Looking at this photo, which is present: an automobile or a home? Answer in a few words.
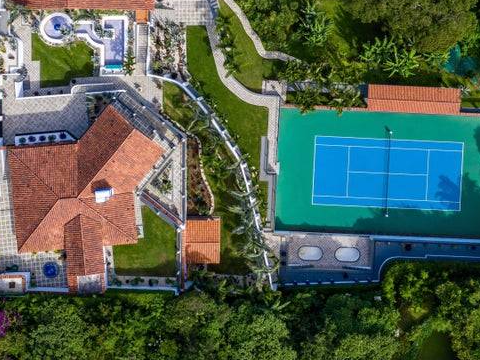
home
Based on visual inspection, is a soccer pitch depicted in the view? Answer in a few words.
No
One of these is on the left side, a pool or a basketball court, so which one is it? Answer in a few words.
pool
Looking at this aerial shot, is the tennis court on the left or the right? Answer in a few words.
right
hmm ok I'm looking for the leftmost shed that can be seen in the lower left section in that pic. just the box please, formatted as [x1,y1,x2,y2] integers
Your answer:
[0,270,34,294]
